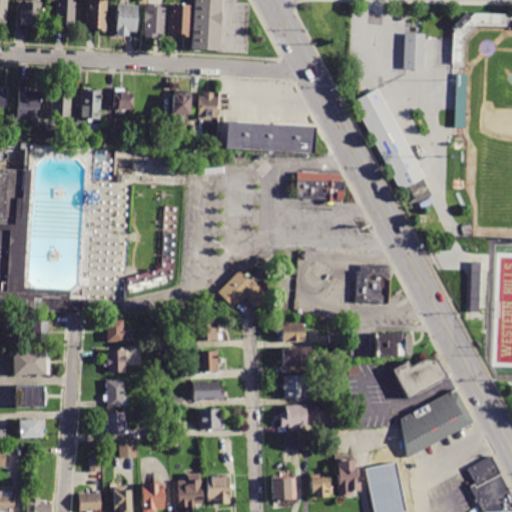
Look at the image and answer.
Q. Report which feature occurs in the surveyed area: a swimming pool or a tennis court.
swimming pool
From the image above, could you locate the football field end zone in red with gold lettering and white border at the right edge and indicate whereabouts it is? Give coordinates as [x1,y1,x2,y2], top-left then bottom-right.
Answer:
[486,240,512,382]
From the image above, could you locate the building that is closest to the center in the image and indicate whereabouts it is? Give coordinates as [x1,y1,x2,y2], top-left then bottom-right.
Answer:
[218,272,263,305]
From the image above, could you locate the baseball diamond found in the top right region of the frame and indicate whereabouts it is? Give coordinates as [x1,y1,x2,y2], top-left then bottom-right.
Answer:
[463,28,512,236]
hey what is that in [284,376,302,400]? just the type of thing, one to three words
house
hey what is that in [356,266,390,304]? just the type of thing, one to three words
building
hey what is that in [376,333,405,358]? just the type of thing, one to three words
building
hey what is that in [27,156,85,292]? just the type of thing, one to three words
swimming pool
